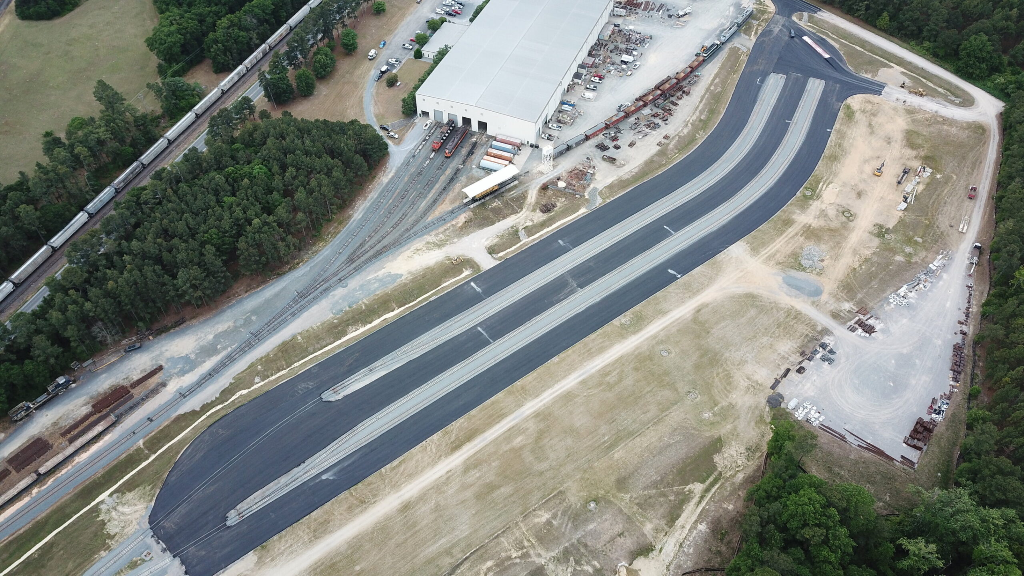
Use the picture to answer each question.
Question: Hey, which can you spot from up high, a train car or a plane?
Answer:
train car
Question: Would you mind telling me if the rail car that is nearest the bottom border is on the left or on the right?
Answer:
left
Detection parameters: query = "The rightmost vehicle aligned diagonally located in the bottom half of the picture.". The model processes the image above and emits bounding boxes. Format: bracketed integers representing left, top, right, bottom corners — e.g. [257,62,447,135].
[787,394,800,410]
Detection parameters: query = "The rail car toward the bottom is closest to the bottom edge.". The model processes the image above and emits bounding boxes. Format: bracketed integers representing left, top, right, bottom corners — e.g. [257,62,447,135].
[0,469,37,499]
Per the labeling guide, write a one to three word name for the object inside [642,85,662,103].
rail car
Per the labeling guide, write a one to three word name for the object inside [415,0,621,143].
warehouse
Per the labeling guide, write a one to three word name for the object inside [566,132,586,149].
rail car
